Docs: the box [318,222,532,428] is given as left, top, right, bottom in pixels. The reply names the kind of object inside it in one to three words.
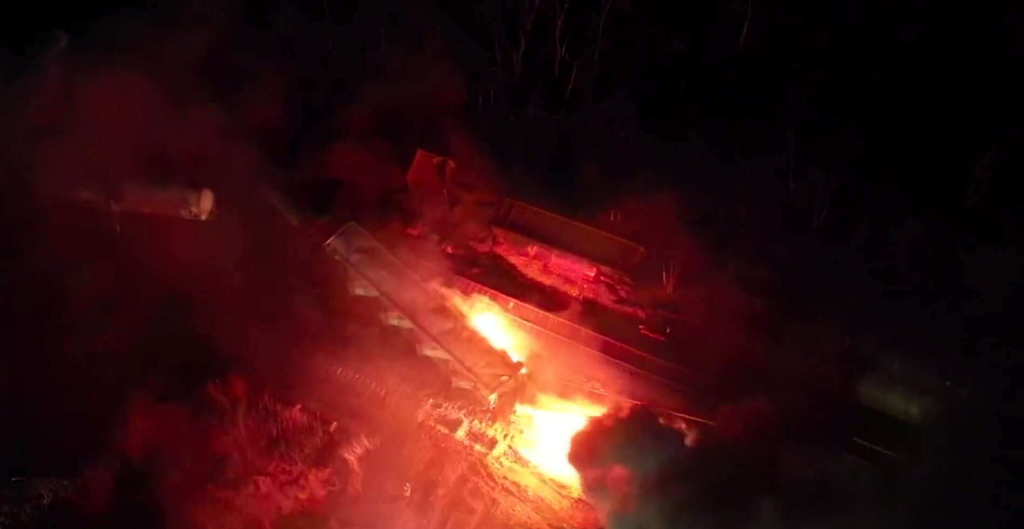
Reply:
rail car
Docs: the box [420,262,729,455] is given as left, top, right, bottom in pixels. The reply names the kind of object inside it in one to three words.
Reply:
rail car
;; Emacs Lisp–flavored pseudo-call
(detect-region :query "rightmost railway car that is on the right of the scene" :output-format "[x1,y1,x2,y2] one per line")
[828,360,991,485]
